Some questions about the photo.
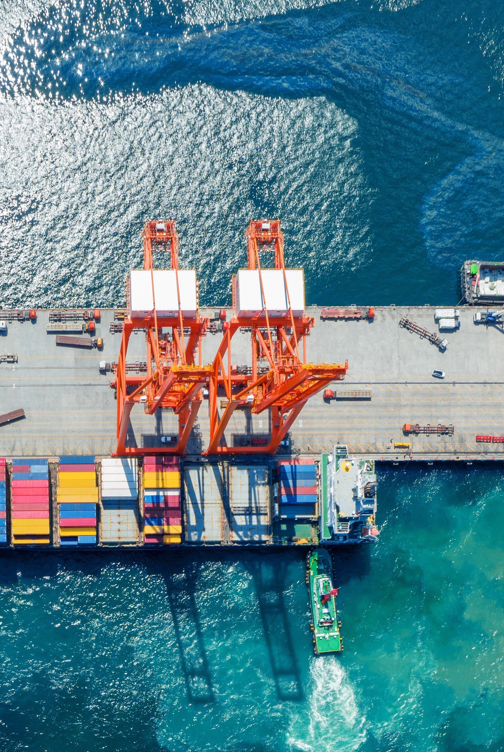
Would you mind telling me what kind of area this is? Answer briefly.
port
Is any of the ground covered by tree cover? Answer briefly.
No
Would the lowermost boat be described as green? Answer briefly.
Yes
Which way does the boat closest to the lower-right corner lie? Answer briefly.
from top to bottom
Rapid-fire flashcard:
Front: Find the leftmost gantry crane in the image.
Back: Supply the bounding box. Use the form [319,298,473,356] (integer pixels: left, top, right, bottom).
[112,227,212,455]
